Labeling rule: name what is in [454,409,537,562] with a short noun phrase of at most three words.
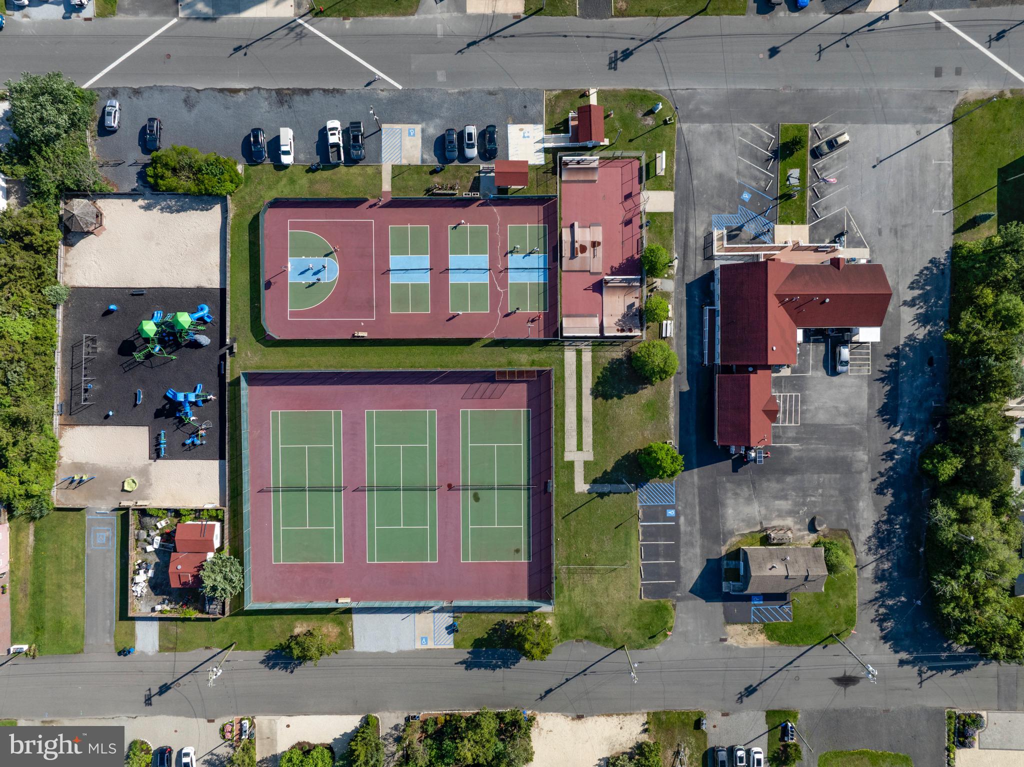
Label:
tennis court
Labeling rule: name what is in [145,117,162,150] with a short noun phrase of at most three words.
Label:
car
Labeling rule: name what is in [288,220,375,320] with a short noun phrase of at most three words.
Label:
basketball court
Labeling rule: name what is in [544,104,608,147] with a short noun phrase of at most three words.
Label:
shed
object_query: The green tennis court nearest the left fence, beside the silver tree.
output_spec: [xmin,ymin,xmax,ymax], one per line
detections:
[261,410,347,563]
